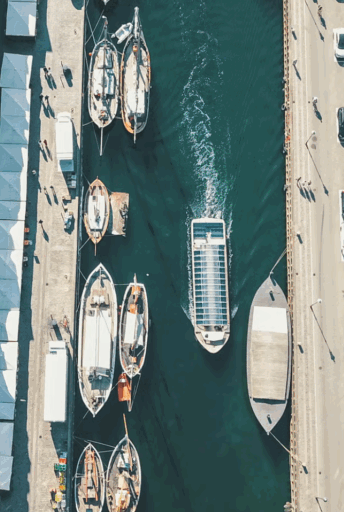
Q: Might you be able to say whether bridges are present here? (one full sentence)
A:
No, the picture doesn't show any bridge.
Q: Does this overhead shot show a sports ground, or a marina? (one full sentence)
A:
The picture captures a marina.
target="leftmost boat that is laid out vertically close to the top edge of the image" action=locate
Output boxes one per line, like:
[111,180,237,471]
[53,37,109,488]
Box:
[87,22,119,151]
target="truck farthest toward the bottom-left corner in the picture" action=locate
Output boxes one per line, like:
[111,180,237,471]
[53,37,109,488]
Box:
[44,339,69,426]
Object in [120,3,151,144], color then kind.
white boat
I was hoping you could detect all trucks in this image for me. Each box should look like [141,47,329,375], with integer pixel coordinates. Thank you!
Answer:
[44,339,69,426]
[53,108,74,173]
